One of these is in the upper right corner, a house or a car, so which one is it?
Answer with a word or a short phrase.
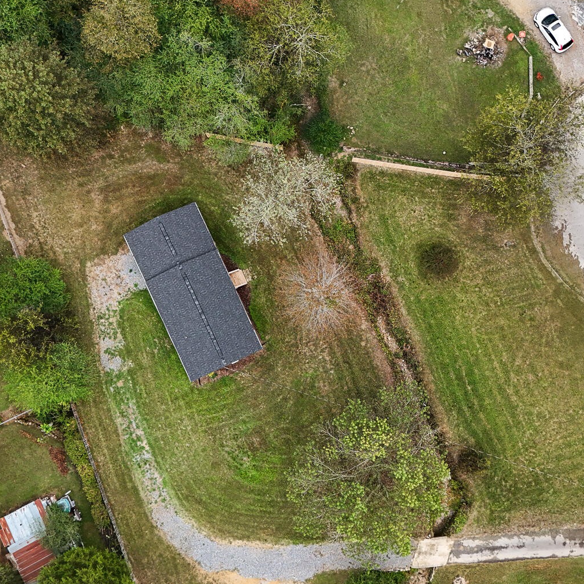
car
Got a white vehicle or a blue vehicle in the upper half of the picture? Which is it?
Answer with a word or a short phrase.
white vehicle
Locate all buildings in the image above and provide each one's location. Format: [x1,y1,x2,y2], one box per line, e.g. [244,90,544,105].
[0,499,59,584]
[123,202,268,386]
